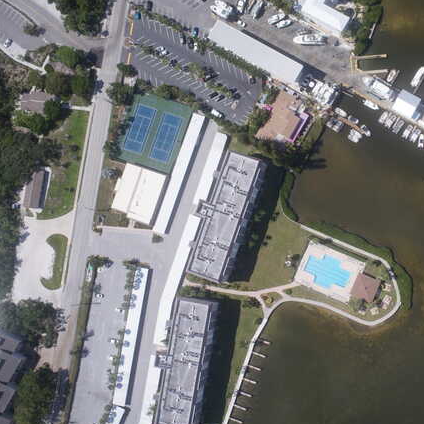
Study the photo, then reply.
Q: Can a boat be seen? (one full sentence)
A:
Yes, this view includes a boat.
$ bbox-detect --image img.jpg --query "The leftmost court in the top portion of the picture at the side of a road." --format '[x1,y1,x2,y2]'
[111,94,161,166]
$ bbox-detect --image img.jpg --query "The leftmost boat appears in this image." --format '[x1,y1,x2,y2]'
[207,0,237,21]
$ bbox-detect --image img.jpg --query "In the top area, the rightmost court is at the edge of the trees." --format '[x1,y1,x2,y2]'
[140,100,193,174]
